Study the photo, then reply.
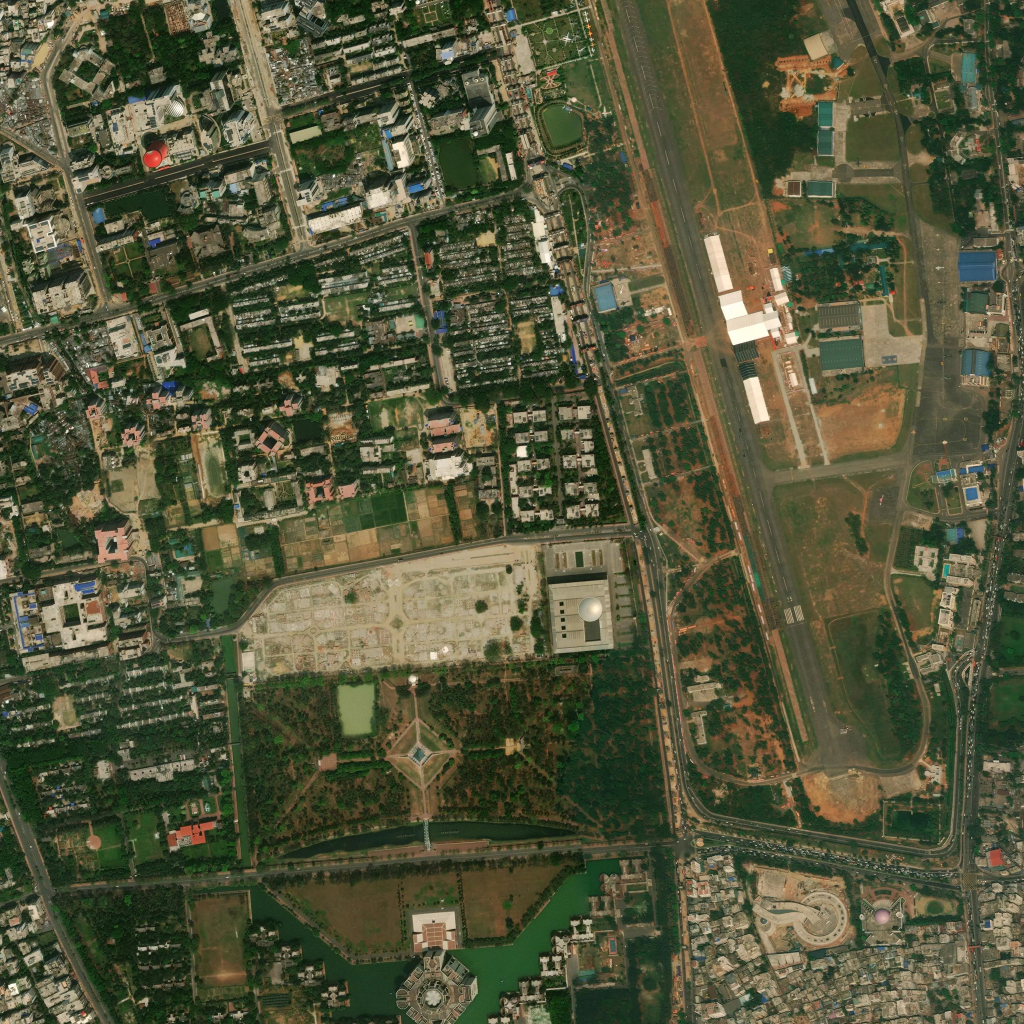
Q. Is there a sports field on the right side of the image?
No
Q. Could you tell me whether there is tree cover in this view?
Yes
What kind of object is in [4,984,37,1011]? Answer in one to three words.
building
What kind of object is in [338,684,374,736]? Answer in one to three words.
pond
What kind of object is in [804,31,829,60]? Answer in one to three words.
hangar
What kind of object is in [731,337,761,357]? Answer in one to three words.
tent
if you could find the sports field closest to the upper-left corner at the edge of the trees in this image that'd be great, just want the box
[199,432,225,496]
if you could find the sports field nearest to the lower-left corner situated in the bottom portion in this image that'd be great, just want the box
[195,895,247,987]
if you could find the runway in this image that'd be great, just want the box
[613,0,843,760]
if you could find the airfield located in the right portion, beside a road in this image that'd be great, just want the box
[613,0,985,783]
